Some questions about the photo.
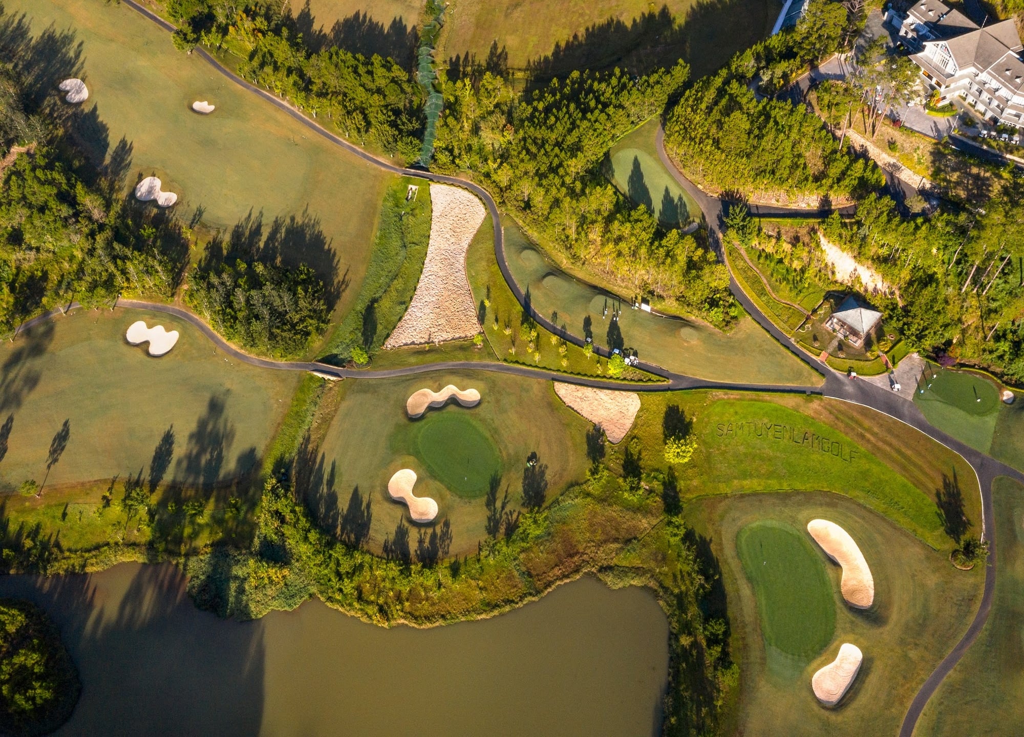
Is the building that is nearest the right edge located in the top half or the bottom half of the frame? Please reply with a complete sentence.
Seen from above, the building that is nearest the right edge lies in the top half of the view.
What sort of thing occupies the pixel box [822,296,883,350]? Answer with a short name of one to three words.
building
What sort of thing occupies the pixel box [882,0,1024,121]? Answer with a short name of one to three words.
building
